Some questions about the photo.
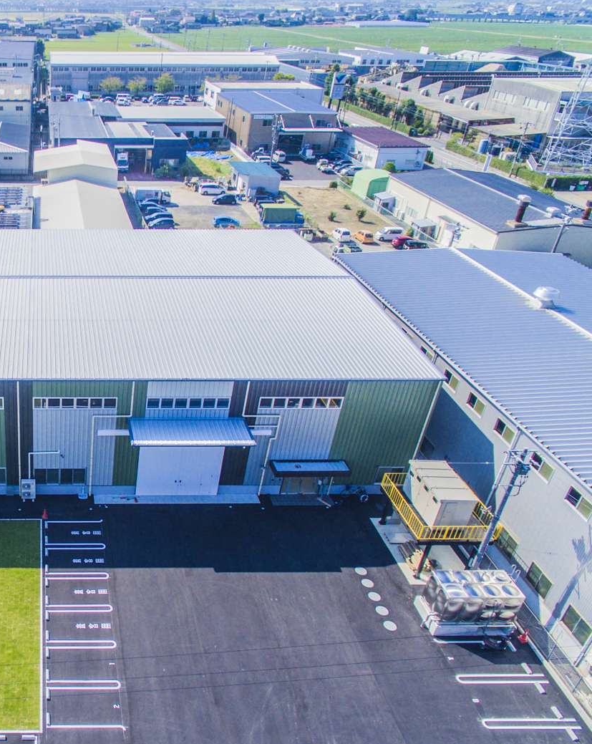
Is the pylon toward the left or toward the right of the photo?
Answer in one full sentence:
The pylon appears in the right half of the scene.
